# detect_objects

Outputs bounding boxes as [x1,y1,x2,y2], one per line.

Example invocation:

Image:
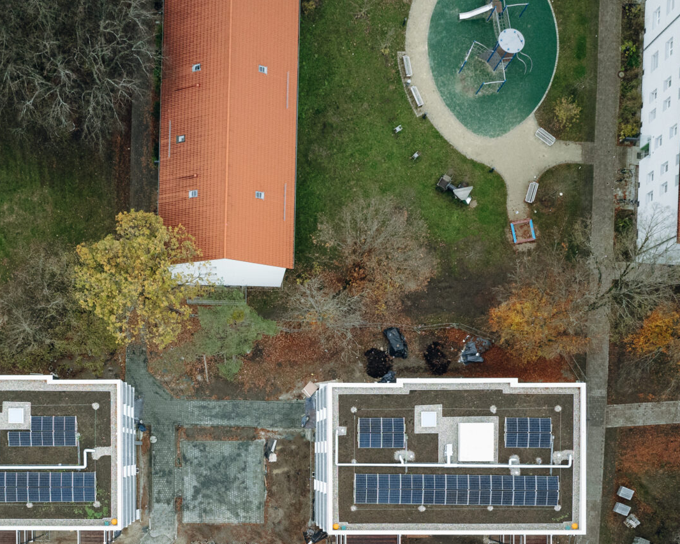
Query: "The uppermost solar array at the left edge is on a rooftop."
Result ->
[8,416,78,446]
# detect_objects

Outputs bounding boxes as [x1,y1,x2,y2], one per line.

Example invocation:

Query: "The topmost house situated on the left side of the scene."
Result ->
[154,0,299,286]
